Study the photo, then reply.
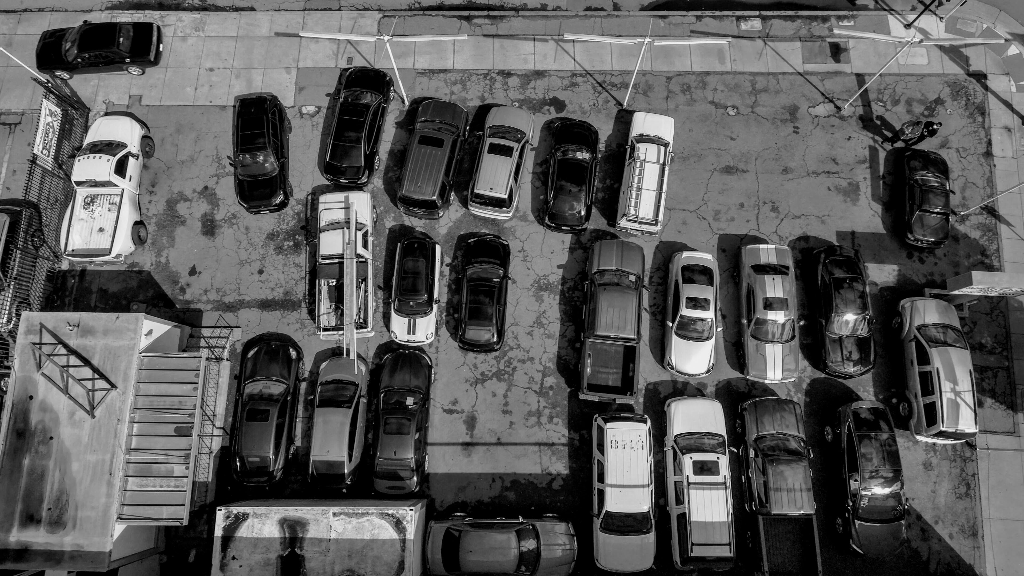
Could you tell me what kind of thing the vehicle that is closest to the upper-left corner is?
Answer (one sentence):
The vehicle that is closest to the upper-left corner is an automobile.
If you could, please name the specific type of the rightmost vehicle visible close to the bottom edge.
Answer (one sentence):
The rightmost vehicle visible close to the bottom edge appears to be a car.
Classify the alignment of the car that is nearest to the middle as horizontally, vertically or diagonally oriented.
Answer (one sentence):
What the image shows is the car that is nearest to the middle lying vertically.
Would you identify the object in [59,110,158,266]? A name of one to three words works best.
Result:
truck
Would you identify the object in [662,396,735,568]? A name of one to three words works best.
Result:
car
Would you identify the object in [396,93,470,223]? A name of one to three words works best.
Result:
car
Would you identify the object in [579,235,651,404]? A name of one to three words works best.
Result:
truck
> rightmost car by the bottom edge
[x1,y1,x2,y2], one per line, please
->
[830,400,912,558]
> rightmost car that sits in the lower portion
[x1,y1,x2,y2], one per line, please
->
[893,296,983,444]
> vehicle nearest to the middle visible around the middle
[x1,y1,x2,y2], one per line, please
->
[453,233,515,353]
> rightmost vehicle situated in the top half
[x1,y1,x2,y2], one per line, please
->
[894,148,965,249]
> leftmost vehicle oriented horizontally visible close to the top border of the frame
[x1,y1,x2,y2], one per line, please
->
[31,15,165,80]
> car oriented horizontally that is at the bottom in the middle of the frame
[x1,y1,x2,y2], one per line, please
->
[426,516,576,576]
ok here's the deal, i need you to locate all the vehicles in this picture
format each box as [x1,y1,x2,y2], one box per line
[662,396,735,568]
[311,189,371,340]
[740,398,817,576]
[542,117,603,235]
[303,355,369,486]
[453,233,515,353]
[732,243,805,382]
[805,245,884,378]
[615,107,681,241]
[383,236,443,345]
[368,352,433,494]
[830,400,912,558]
[228,341,305,485]
[31,15,165,80]
[426,516,576,576]
[660,248,726,377]
[579,235,651,404]
[466,102,533,221]
[59,110,158,266]
[894,148,965,249]
[893,296,983,444]
[320,64,393,187]
[396,93,470,223]
[227,89,293,213]
[592,415,659,573]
